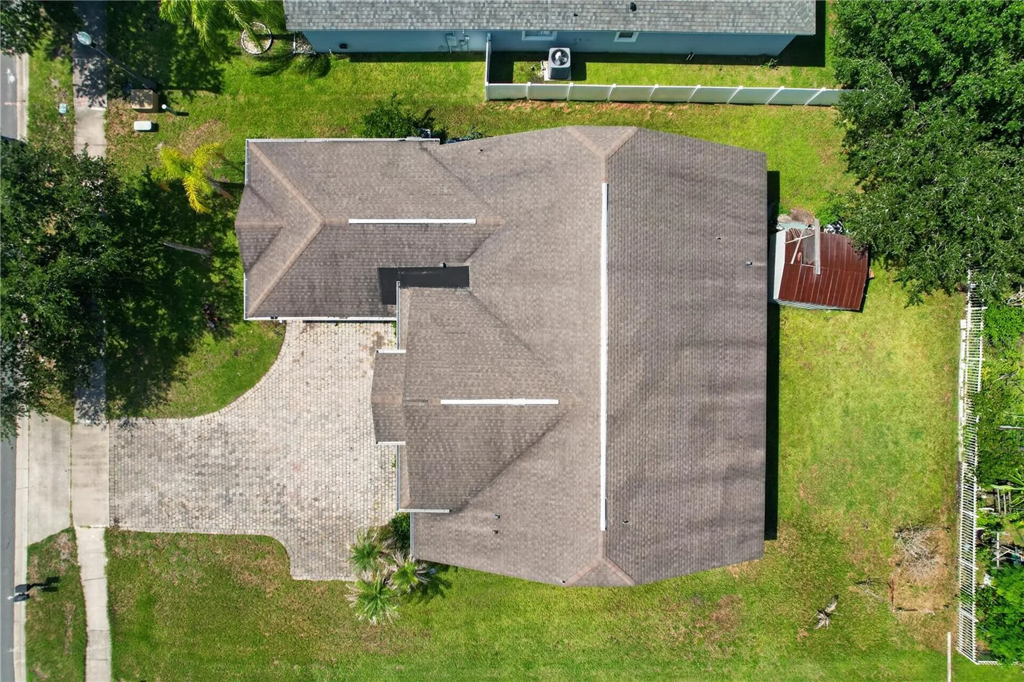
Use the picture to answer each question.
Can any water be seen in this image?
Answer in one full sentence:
No, there's no water in this view.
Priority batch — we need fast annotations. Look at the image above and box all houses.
[231,123,767,590]
[283,0,817,56]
